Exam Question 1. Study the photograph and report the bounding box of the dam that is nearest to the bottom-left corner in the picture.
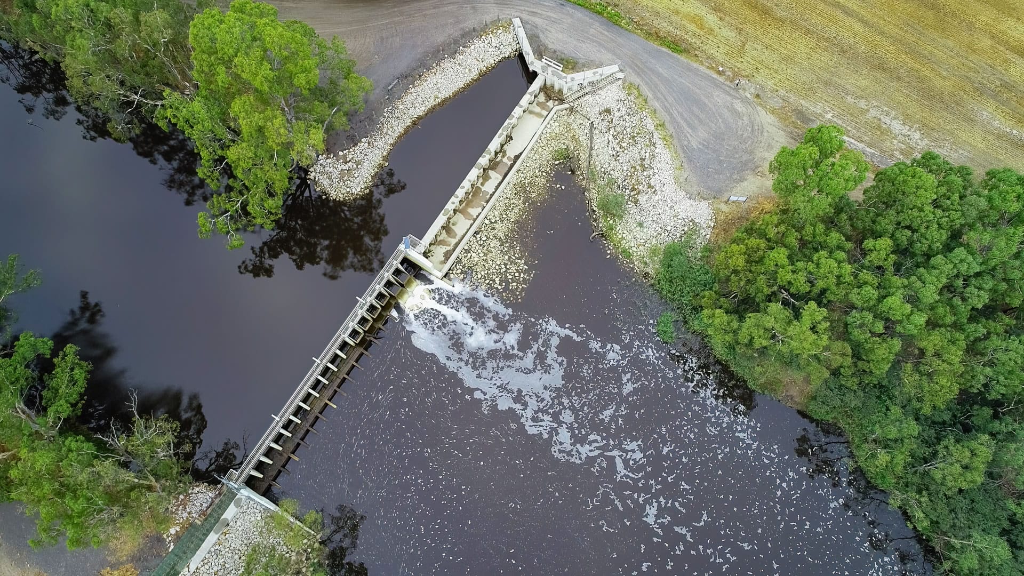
[236,259,427,493]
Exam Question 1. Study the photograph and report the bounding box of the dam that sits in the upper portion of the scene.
[421,78,573,274]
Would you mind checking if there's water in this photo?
Yes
